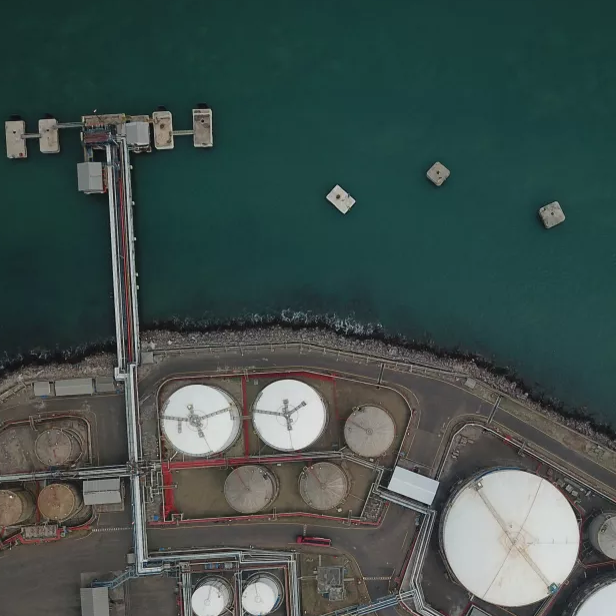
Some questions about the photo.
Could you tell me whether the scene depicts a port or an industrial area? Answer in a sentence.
This image shows an industrial area.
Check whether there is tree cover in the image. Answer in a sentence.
No, tree cover can't be seen anywhere here.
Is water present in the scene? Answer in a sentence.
Yes, some water is visible.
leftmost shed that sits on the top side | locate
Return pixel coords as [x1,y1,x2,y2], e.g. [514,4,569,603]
[77,162,106,194]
